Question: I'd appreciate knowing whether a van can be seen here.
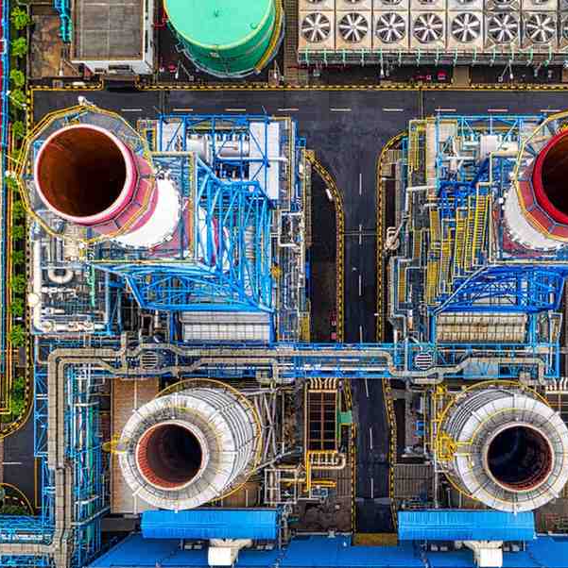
No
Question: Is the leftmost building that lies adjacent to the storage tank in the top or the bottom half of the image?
top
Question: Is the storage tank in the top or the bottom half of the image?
top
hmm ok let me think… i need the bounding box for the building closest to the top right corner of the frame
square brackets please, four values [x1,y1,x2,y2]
[385,115,568,344]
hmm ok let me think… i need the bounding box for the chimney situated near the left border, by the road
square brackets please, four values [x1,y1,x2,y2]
[6,96,176,243]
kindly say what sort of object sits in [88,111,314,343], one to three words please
building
